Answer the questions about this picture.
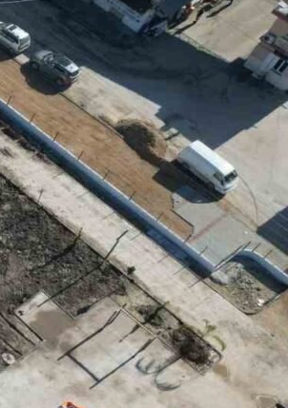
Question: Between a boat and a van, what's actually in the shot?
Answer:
van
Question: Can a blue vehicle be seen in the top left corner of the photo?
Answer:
No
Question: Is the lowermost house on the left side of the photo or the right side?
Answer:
right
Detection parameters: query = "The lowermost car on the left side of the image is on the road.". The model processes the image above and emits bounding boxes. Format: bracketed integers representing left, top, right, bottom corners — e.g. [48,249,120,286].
[32,49,89,87]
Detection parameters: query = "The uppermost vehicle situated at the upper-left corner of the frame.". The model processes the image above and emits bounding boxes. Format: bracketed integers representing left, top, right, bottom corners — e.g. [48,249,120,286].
[0,19,35,56]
